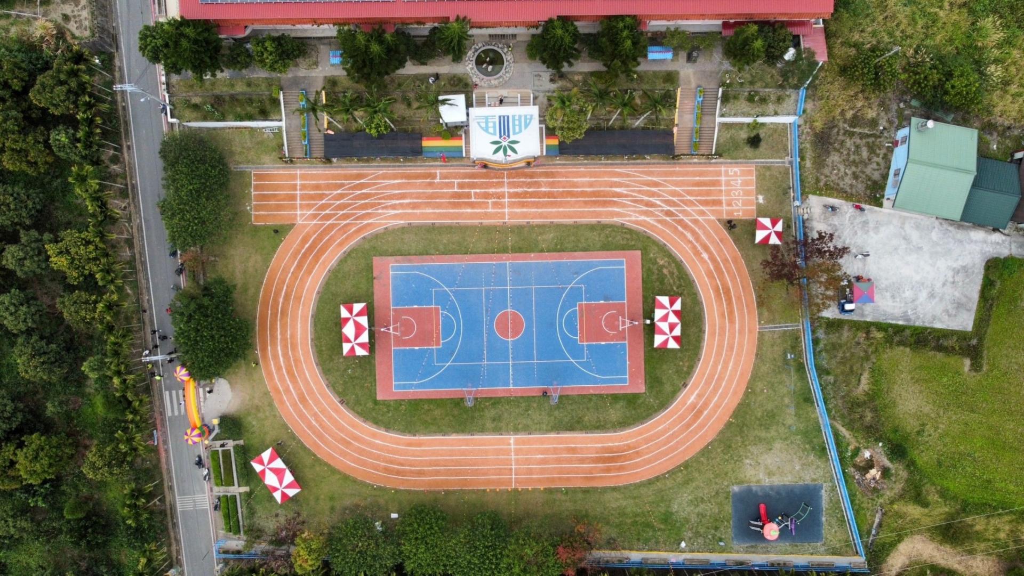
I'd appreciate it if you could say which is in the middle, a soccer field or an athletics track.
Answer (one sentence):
What appears in the middle is an athletics track.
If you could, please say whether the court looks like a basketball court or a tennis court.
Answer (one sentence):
The court is a basketball court.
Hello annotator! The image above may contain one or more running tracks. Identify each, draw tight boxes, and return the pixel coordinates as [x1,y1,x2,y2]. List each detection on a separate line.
[250,164,758,491]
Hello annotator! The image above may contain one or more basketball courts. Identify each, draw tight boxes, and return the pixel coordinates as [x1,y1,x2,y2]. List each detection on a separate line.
[373,250,645,399]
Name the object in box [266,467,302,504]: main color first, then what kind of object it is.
white tent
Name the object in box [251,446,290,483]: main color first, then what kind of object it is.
white tent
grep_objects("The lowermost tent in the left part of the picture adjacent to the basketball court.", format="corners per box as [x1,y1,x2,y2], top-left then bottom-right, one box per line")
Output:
[342,328,373,356]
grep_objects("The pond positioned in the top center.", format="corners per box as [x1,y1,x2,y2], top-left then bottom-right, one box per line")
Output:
[464,38,516,91]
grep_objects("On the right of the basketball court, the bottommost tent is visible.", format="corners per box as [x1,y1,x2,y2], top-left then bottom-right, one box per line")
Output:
[650,322,681,349]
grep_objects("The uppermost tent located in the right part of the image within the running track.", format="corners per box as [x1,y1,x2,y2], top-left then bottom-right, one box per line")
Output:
[651,296,681,322]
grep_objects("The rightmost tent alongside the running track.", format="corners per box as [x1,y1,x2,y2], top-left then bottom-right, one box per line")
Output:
[750,218,782,244]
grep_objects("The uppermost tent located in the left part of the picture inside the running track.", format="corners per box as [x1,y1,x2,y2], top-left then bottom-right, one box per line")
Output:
[340,303,369,330]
